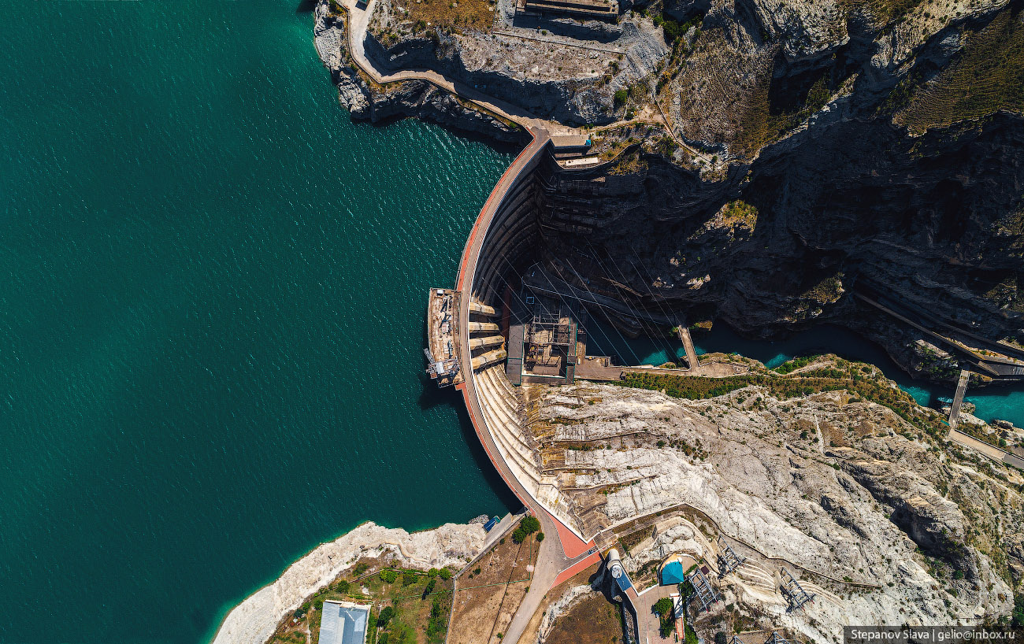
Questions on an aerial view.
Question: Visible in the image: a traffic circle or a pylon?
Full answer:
There is a pylon in the scene.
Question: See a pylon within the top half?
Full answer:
No, there is no pylon within the top half.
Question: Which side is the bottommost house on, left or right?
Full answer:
The bottommost house is on the left side of the image.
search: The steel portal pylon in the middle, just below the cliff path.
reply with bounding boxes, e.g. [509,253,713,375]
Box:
[708,530,745,575]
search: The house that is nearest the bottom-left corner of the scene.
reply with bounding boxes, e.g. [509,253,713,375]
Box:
[319,598,373,644]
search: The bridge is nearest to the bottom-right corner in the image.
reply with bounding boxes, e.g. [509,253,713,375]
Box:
[942,369,969,430]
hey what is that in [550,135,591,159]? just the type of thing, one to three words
building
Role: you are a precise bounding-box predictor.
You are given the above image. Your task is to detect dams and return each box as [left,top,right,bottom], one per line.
[453,134,587,545]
